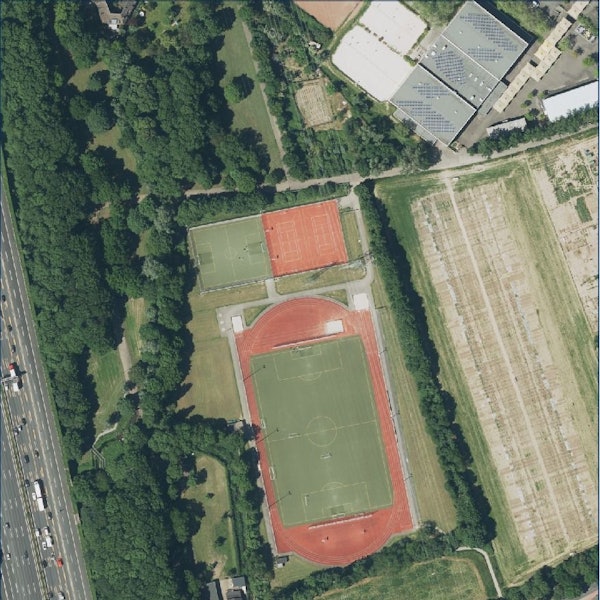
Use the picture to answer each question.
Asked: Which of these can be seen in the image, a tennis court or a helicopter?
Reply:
tennis court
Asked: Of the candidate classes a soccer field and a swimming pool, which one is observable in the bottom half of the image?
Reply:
soccer field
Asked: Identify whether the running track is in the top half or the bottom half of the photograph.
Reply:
bottom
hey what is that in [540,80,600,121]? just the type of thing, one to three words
building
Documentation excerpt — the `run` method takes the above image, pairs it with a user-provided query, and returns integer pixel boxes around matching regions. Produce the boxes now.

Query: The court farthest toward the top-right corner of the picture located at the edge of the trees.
[262,200,347,276]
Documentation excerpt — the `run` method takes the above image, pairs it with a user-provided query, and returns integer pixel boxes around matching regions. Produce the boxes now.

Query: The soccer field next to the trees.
[251,336,393,527]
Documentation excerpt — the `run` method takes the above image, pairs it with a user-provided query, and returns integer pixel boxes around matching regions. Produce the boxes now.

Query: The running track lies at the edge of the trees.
[234,296,413,566]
